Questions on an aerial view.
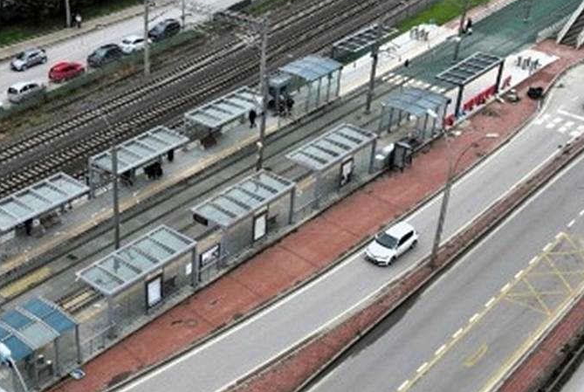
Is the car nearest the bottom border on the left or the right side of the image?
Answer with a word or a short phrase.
right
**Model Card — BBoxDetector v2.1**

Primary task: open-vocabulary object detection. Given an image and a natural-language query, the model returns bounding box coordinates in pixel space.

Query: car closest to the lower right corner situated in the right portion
[363,217,420,261]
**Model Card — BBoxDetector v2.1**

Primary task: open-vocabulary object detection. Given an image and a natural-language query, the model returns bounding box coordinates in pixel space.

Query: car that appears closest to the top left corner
[5,42,50,68]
